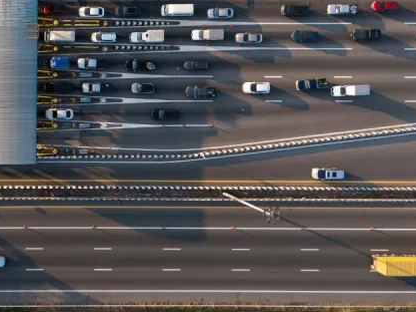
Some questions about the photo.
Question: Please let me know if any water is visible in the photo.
No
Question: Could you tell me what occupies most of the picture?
paved ground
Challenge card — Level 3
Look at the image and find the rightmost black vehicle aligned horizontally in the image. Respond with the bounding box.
[350,27,382,41]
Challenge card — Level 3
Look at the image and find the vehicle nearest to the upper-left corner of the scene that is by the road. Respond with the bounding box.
[42,2,66,16]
